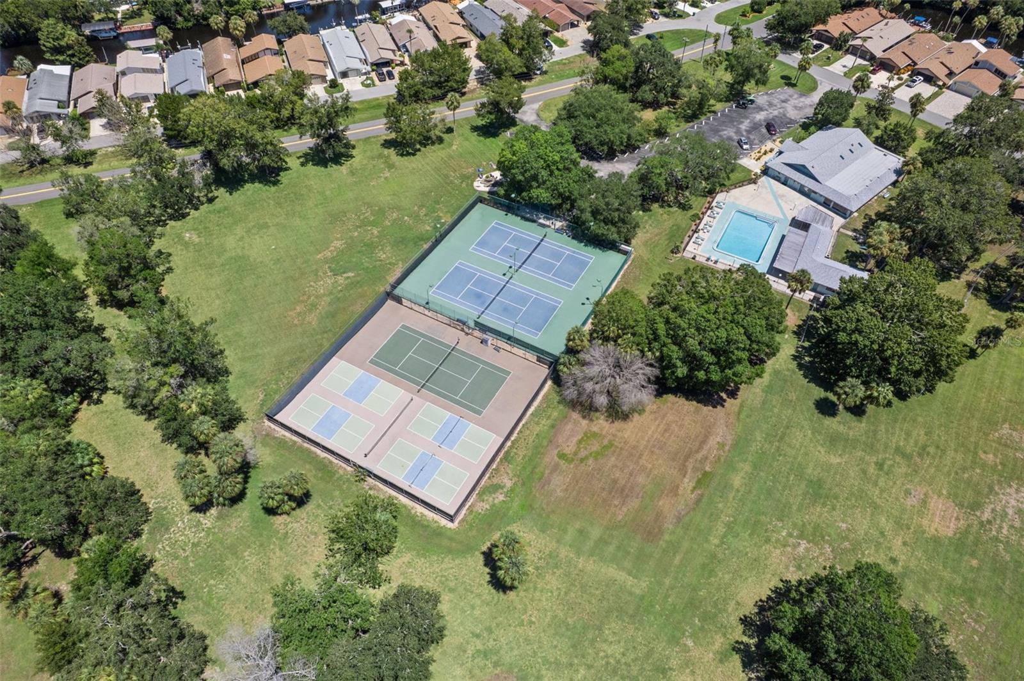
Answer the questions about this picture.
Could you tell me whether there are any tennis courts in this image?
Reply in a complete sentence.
Yes, there's a tennis court down there.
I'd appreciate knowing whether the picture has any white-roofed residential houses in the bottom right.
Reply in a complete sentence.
No, the scene shows no white-roofed residential house in the bottom right.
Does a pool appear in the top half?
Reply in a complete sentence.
Yes, a pool appears in the top half.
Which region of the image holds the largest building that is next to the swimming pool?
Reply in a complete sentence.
The largest building that is next to the swimming pool appears toward the top right of the photo.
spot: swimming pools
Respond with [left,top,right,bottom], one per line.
[713,207,781,266]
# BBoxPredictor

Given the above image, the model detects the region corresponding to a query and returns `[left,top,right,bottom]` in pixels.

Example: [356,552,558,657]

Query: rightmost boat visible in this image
[981,32,1001,46]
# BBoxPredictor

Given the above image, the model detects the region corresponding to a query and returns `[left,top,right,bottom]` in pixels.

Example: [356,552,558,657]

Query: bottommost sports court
[377,438,469,505]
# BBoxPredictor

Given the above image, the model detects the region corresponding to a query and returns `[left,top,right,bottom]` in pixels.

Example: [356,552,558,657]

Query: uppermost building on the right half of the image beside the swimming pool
[766,127,907,220]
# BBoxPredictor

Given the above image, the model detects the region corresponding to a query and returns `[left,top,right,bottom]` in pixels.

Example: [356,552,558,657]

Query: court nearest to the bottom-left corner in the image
[288,393,375,453]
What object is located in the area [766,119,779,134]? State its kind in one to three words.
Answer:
vehicle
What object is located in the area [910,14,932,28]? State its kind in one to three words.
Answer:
boat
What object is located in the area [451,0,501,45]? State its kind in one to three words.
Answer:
house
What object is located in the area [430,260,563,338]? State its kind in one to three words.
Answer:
tennis court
